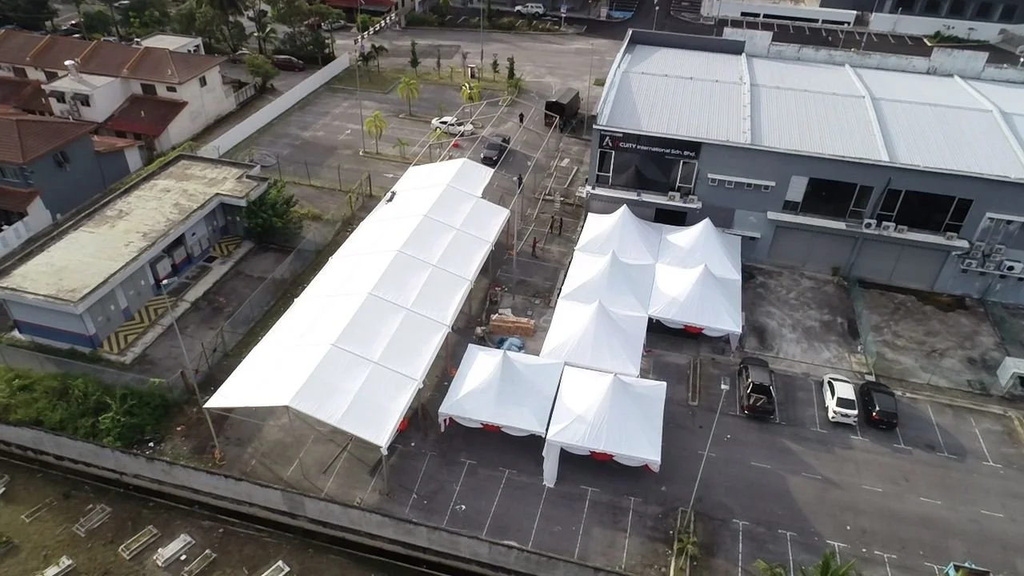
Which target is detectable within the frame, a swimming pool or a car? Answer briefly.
car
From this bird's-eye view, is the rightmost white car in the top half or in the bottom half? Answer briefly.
bottom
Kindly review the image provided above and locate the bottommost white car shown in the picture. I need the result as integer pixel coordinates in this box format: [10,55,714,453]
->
[815,364,861,422]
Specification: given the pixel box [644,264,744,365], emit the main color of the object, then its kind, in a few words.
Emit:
white tent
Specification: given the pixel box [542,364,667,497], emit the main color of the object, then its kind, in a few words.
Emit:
white tent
